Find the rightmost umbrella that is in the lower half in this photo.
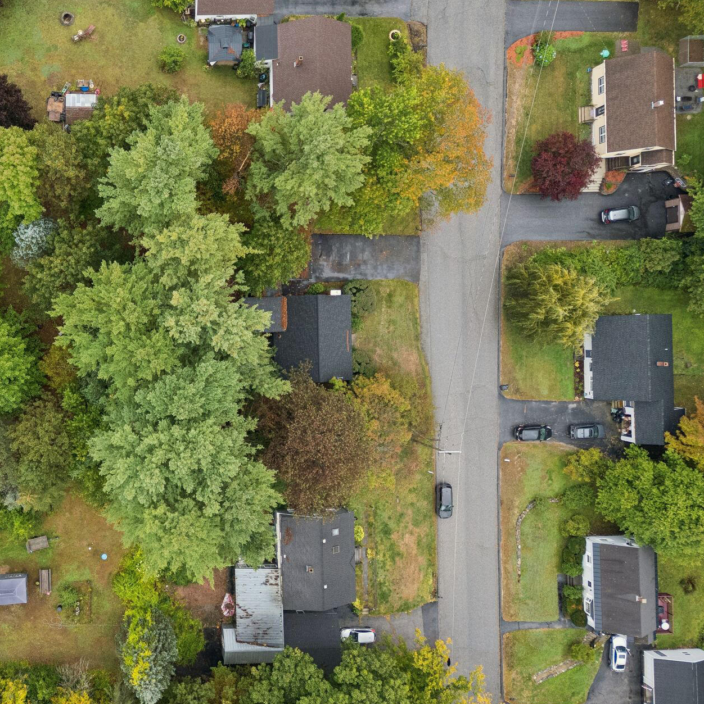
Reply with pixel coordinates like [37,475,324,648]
[222,595,234,615]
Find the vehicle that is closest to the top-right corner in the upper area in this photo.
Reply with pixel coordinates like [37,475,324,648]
[597,206,639,224]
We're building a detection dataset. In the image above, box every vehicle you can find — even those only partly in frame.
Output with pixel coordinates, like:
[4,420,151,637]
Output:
[512,424,550,442]
[597,206,639,224]
[608,633,628,673]
[341,625,376,643]
[434,481,453,518]
[566,423,603,440]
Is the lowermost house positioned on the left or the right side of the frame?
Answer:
right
